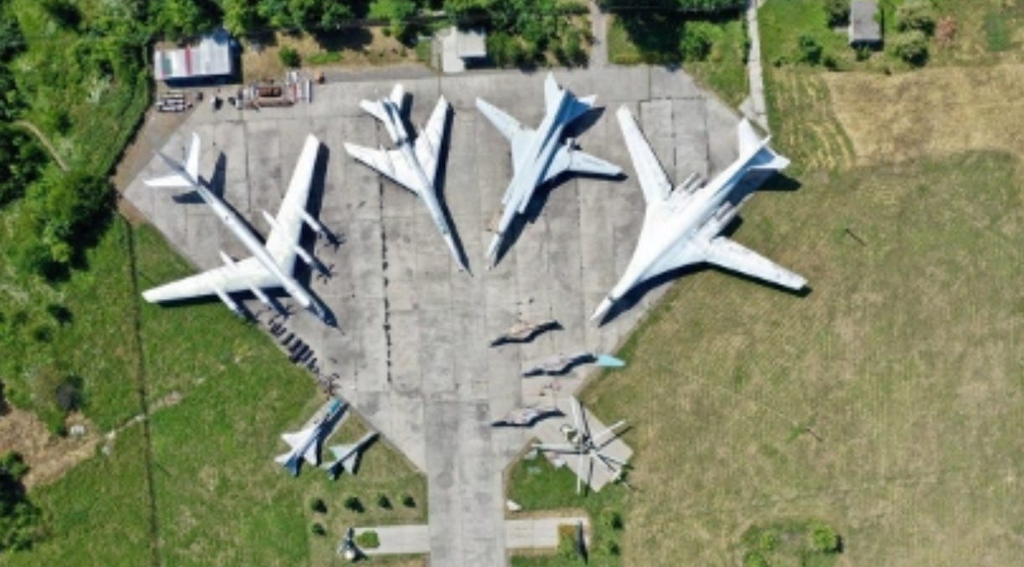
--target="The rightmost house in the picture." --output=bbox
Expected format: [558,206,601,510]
[846,0,880,42]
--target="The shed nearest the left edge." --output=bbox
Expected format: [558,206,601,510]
[155,33,234,81]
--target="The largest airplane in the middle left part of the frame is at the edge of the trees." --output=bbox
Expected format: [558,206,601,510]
[143,132,336,325]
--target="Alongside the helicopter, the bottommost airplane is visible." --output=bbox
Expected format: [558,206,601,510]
[488,403,562,434]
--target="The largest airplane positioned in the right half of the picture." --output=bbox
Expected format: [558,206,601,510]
[592,103,807,319]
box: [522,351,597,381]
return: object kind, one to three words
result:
airplane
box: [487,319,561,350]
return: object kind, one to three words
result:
airplane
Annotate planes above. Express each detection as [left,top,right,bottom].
[341,78,470,275]
[273,398,345,477]
[522,351,597,381]
[320,430,381,480]
[143,132,336,325]
[488,403,562,434]
[475,74,626,268]
[487,319,561,350]
[592,103,807,319]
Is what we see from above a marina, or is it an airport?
airport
